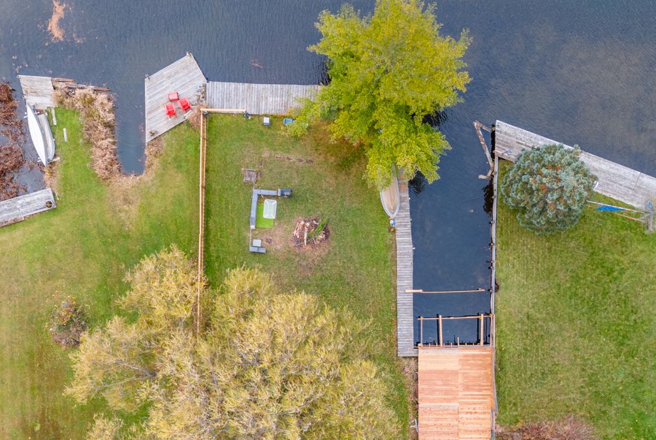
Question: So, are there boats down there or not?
Yes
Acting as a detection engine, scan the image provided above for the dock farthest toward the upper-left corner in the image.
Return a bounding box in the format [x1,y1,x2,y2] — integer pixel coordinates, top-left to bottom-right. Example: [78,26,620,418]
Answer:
[19,76,56,108]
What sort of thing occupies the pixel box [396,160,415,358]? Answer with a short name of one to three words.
pier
